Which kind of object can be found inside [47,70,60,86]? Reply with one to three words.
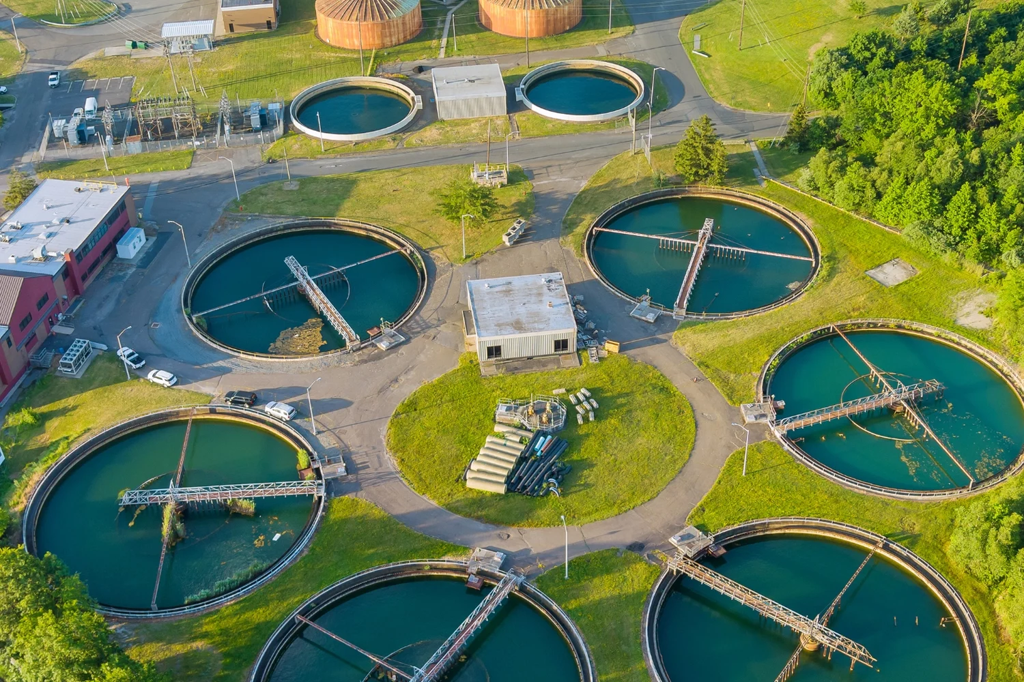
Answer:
vehicle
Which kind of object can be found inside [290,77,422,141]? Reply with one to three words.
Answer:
storage tank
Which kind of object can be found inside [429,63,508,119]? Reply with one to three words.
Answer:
shed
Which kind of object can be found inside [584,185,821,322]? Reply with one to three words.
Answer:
storage tank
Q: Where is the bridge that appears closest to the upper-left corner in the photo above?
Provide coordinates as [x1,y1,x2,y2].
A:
[284,257,363,356]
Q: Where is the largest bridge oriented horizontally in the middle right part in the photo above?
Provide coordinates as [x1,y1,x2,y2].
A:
[762,381,948,437]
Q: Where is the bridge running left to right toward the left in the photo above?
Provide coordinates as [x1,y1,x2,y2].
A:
[120,478,334,508]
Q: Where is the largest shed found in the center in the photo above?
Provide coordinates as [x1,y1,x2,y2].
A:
[457,271,579,361]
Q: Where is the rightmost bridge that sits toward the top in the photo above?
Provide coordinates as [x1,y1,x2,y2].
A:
[674,218,714,322]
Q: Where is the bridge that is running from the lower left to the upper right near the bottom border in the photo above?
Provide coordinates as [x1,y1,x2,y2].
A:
[410,567,529,682]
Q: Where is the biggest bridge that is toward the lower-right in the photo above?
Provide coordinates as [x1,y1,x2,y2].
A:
[658,551,875,669]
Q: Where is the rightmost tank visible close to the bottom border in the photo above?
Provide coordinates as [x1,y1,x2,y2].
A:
[646,517,984,682]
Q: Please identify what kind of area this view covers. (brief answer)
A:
industrial area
